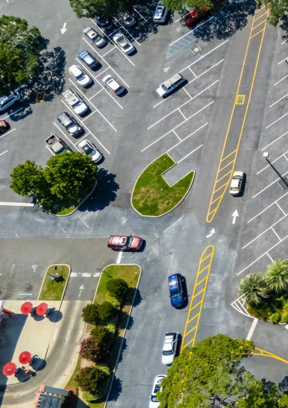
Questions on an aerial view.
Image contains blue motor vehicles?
Yes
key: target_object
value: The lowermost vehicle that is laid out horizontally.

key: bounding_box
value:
[104,234,145,251]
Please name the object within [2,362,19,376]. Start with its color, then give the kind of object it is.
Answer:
red umbrella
